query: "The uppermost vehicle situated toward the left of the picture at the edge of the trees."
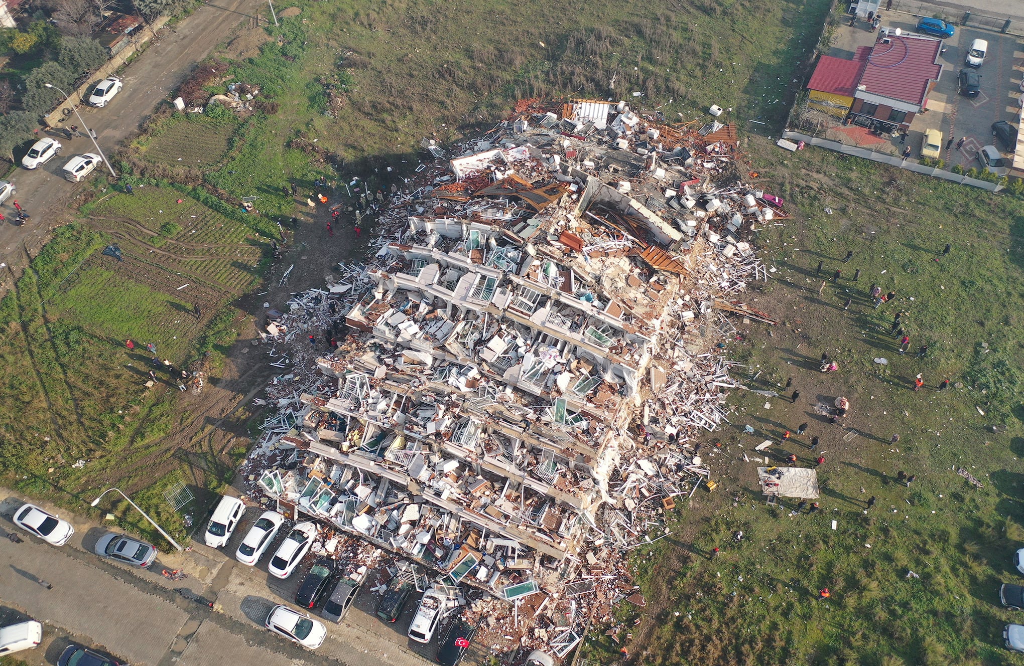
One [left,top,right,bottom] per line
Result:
[86,79,123,109]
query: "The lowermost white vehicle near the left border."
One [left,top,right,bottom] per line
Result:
[0,620,54,661]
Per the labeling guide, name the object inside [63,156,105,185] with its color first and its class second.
white car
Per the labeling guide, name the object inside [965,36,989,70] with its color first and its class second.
white car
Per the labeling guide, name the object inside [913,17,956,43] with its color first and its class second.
blue car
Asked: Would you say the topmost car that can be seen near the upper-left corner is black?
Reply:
No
